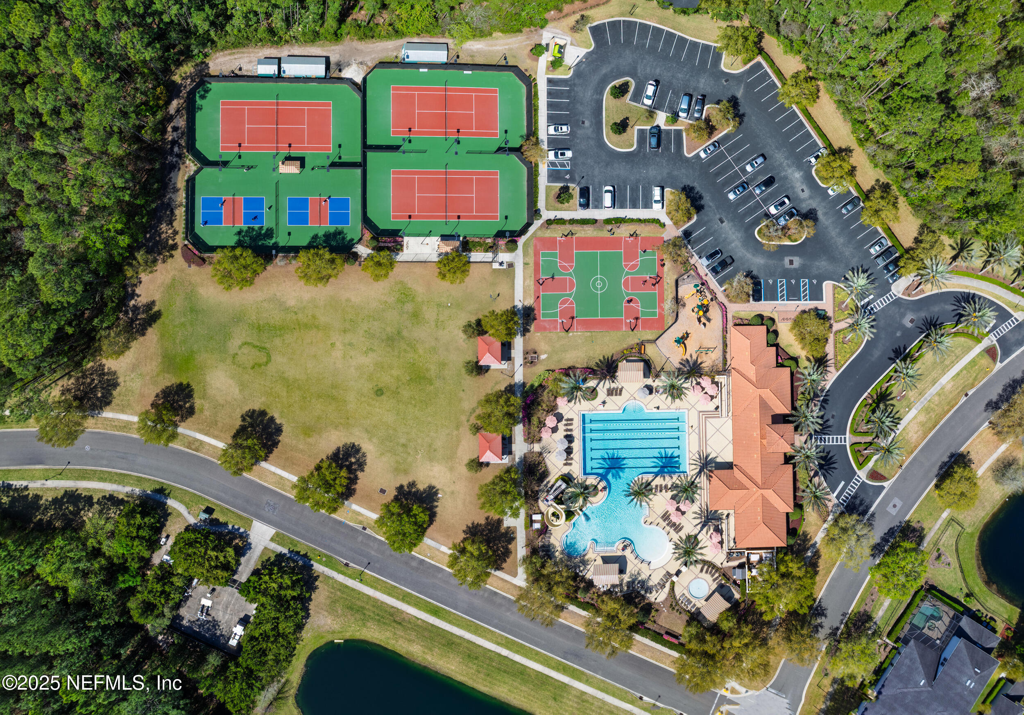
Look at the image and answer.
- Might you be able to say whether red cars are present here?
No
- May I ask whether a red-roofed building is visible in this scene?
Yes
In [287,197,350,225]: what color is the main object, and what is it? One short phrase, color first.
blue sports court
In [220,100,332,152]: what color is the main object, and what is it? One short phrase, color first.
red tennis court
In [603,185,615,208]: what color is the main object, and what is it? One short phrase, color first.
white vehicle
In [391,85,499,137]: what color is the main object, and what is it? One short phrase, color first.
red tennis court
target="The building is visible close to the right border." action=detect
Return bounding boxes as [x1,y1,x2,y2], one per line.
[854,614,1024,715]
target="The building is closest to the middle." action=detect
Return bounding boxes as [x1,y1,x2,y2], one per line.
[478,337,506,367]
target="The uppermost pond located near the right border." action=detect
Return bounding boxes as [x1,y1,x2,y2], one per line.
[976,492,1024,613]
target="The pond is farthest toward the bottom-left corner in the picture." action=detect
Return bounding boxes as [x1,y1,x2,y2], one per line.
[297,640,530,715]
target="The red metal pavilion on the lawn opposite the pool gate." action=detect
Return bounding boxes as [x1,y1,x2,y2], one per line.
[479,432,507,462]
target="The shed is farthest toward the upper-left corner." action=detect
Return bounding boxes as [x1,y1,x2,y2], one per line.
[256,59,281,81]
